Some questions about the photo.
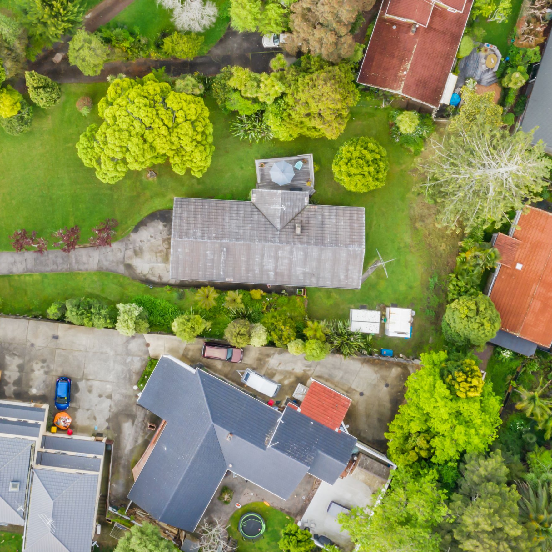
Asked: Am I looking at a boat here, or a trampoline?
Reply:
trampoline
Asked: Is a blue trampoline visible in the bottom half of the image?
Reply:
No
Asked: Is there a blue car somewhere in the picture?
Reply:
Yes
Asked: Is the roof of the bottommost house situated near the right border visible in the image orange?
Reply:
Yes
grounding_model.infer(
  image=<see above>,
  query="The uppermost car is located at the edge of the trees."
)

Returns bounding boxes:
[263,29,299,47]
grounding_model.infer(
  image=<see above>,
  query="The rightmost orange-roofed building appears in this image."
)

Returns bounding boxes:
[483,204,552,356]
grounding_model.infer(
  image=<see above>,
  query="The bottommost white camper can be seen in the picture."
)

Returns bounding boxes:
[239,369,284,401]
